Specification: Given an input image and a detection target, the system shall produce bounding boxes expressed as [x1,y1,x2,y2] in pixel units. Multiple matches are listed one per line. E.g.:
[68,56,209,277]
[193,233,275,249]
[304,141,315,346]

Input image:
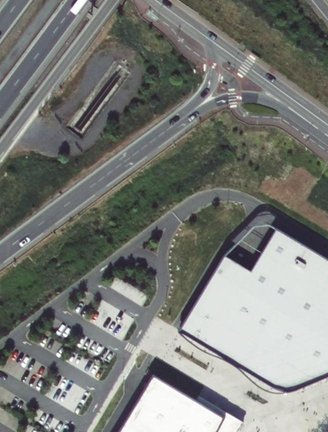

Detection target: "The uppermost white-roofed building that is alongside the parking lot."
[182,224,328,396]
